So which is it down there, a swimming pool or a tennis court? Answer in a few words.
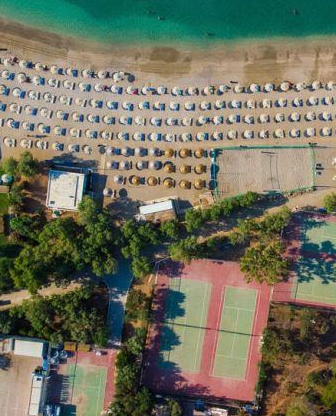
tennis court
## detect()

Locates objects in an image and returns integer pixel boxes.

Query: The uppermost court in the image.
[216,147,314,202]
